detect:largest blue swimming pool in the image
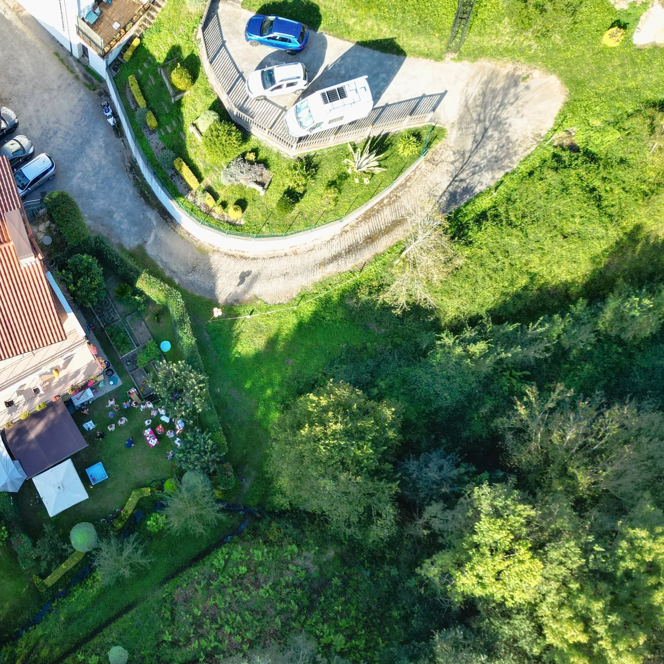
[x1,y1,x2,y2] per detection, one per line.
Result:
[84,461,110,487]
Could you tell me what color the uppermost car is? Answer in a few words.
blue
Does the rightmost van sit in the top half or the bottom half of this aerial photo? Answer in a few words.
top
